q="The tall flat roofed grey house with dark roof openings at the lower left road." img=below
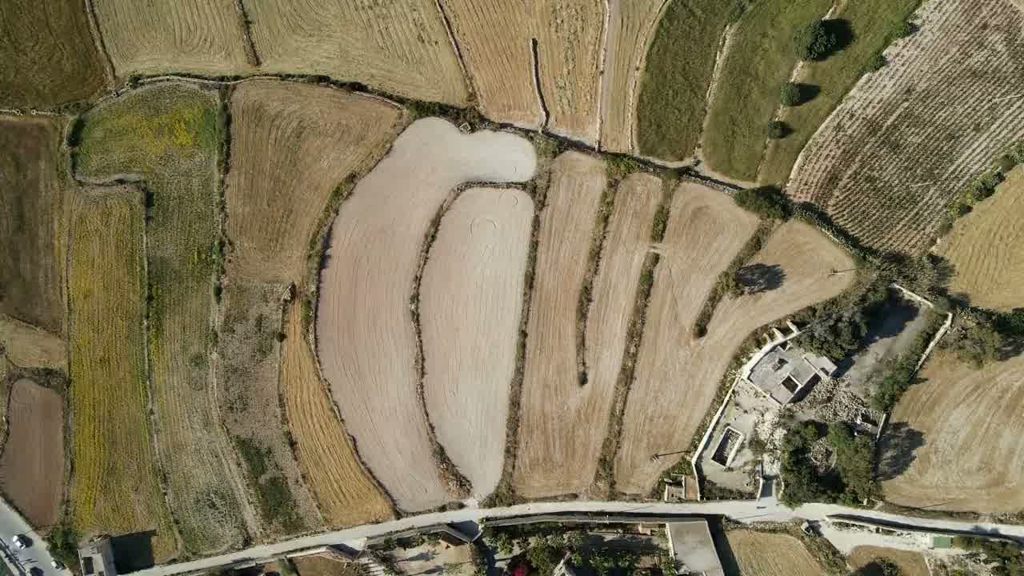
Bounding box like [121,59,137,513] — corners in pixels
[75,534,123,576]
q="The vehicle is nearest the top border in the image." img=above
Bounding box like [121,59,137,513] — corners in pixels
[11,534,28,551]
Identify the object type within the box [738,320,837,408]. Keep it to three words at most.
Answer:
house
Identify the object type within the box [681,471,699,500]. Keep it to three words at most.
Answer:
shed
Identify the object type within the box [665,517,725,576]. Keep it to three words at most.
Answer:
building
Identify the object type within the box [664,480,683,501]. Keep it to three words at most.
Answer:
shed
